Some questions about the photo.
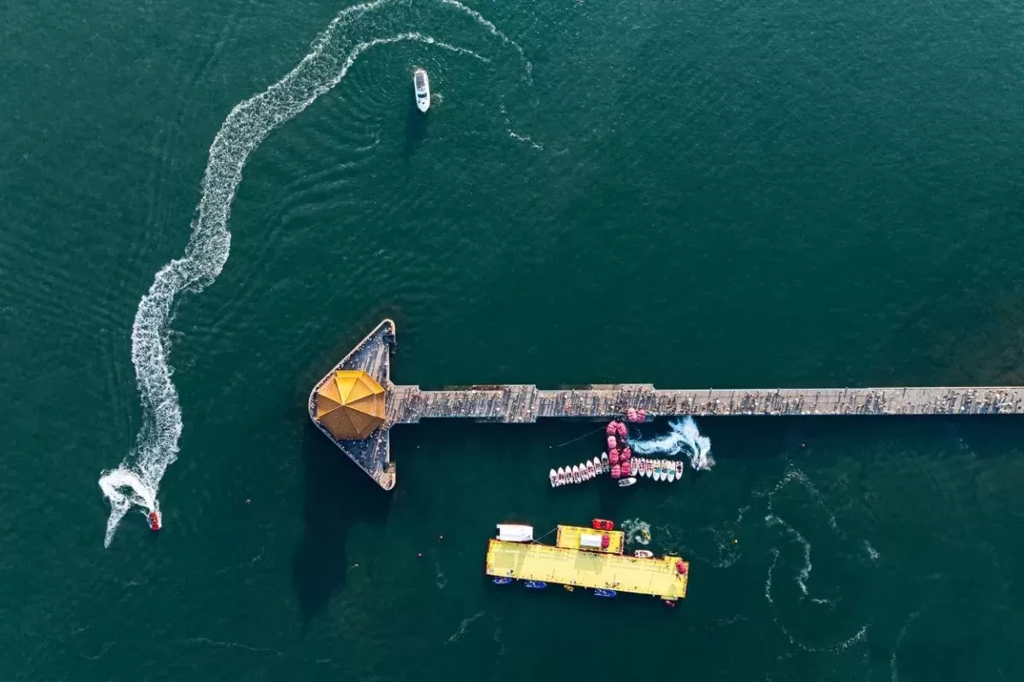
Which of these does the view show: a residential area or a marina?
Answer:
marina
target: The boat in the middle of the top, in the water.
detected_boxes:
[413,66,431,112]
